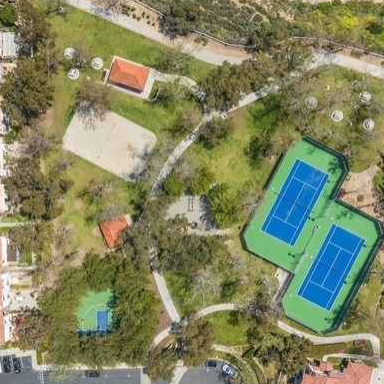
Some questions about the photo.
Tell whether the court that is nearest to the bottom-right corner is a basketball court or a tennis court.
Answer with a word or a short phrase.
tennis court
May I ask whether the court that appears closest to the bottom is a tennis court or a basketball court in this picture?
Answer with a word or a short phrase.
basketball court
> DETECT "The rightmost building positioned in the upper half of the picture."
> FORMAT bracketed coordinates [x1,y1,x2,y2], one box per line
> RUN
[109,58,149,91]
